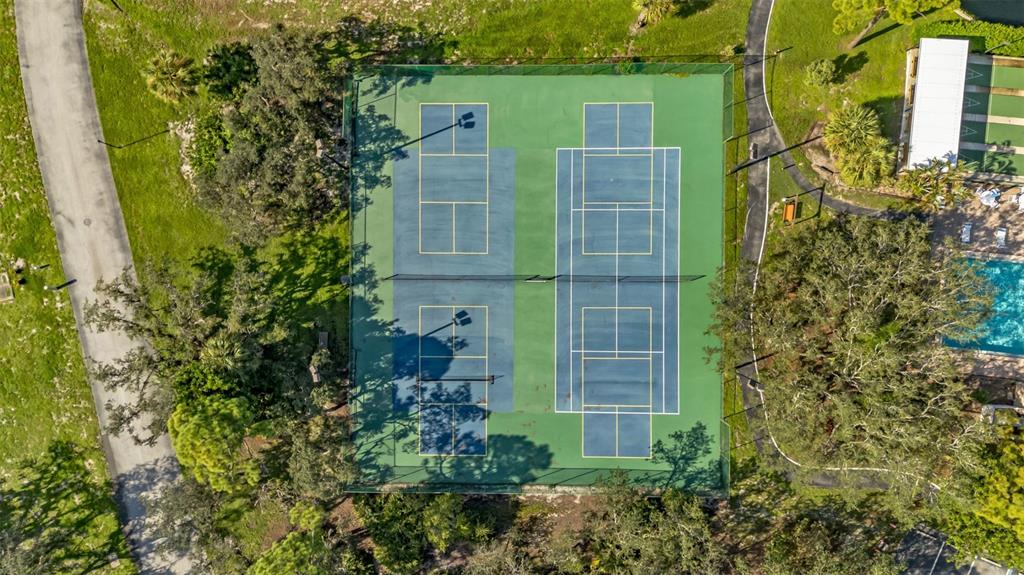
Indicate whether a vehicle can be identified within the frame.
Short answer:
No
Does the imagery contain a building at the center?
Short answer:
No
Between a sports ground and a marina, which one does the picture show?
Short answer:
sports ground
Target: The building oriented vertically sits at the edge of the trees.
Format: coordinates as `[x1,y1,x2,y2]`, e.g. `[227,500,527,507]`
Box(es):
[894,38,969,171]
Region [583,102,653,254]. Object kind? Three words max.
sports court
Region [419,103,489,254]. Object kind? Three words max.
sports court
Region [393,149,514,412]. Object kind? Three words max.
tennis court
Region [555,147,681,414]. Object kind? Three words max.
tennis court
